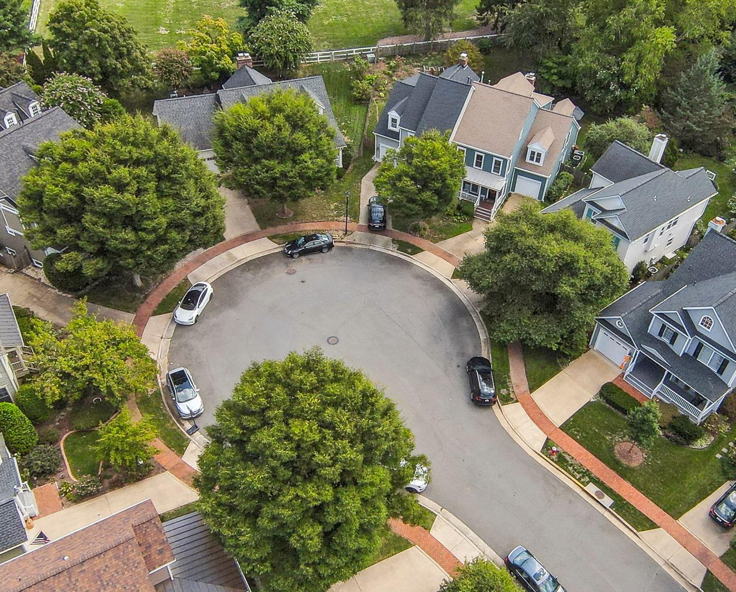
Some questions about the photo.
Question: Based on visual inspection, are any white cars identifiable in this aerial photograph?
Yes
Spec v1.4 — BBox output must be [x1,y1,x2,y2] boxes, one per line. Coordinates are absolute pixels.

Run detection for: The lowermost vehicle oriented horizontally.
[283,237,336,261]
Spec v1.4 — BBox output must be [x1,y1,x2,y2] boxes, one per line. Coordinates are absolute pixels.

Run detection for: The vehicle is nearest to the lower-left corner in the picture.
[168,366,205,421]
